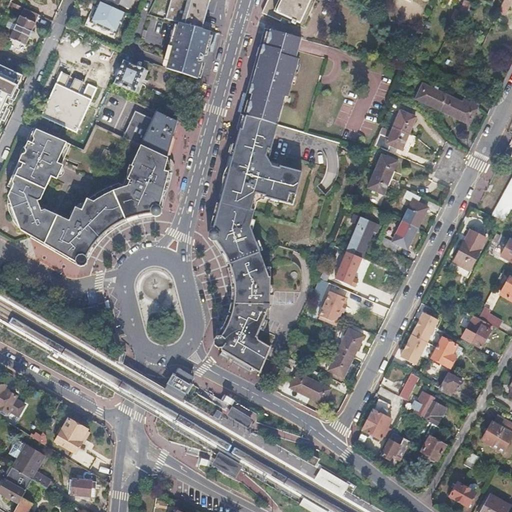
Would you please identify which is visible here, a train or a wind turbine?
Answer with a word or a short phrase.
train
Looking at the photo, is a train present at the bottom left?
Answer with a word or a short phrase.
Yes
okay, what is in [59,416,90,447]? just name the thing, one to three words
house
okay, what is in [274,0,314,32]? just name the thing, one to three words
building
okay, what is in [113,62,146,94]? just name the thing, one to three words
house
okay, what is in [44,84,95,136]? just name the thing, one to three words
building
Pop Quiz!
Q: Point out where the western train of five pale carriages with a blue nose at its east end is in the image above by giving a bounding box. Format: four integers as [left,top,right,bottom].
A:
[8,316,232,450]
